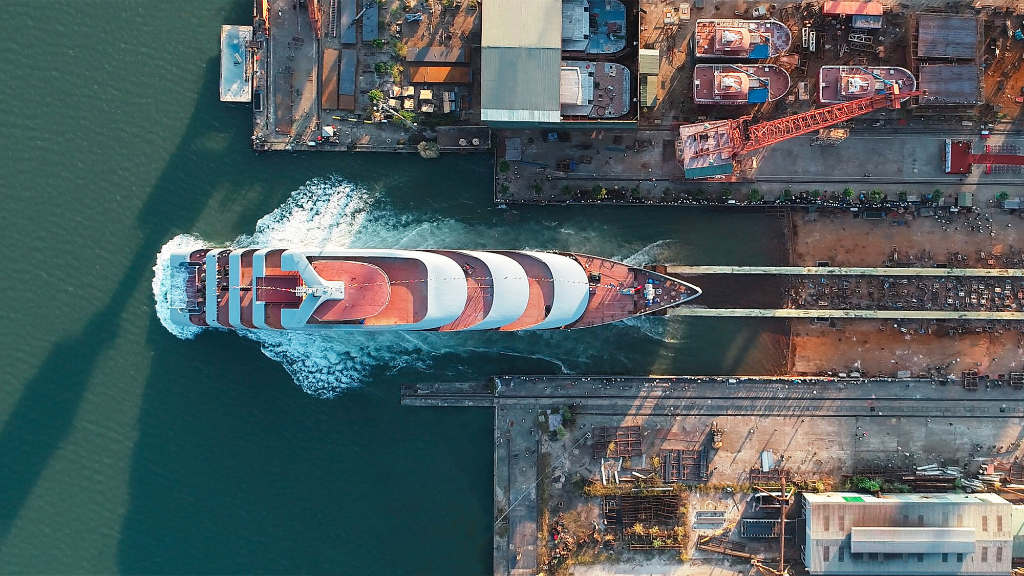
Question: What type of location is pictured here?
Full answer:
This looks like a port.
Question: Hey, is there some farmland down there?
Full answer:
No, the picture contains no farmland.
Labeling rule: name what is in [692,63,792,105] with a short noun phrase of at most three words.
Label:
boat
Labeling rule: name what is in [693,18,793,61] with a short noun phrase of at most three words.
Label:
boat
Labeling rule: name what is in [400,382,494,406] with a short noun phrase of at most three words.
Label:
pier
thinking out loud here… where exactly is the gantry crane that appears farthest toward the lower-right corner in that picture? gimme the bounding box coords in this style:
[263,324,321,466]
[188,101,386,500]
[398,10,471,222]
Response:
[751,475,795,576]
